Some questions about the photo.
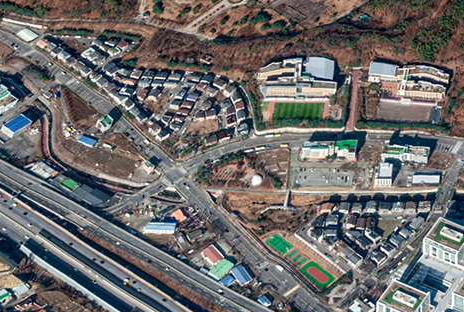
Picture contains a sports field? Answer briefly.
Yes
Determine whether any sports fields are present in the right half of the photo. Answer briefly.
Yes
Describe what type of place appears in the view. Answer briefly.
residential area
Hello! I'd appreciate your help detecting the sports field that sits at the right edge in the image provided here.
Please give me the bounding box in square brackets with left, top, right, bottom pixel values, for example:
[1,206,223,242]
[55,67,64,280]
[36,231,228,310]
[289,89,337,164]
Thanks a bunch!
[376,97,442,122]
